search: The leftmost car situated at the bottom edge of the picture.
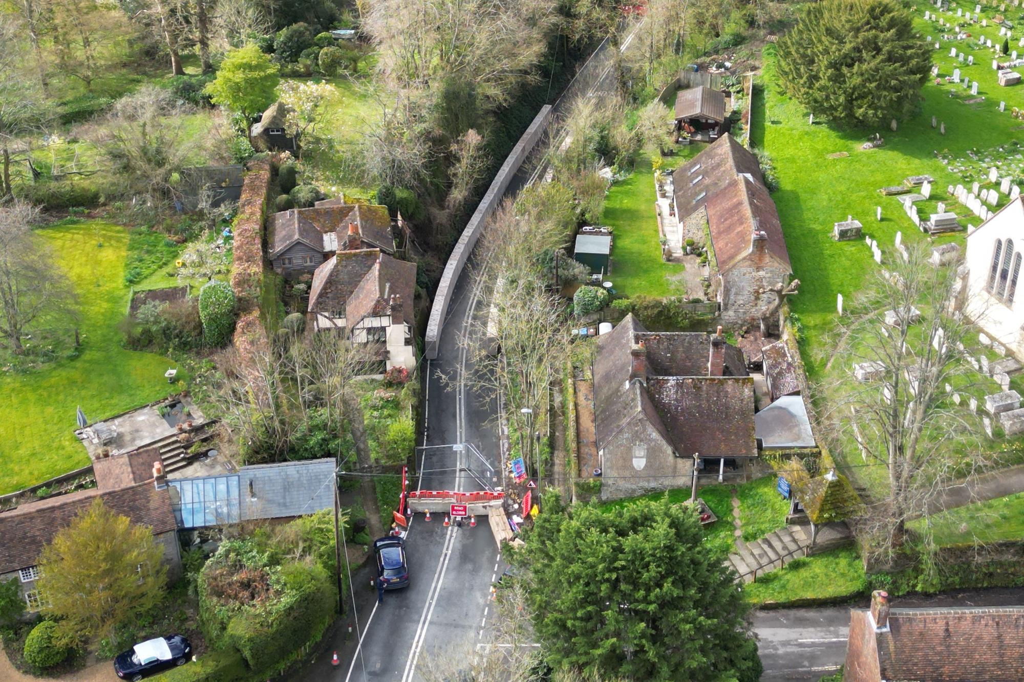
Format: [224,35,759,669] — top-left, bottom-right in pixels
[123,636,201,681]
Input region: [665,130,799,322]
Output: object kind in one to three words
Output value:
house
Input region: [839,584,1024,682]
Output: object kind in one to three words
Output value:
house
